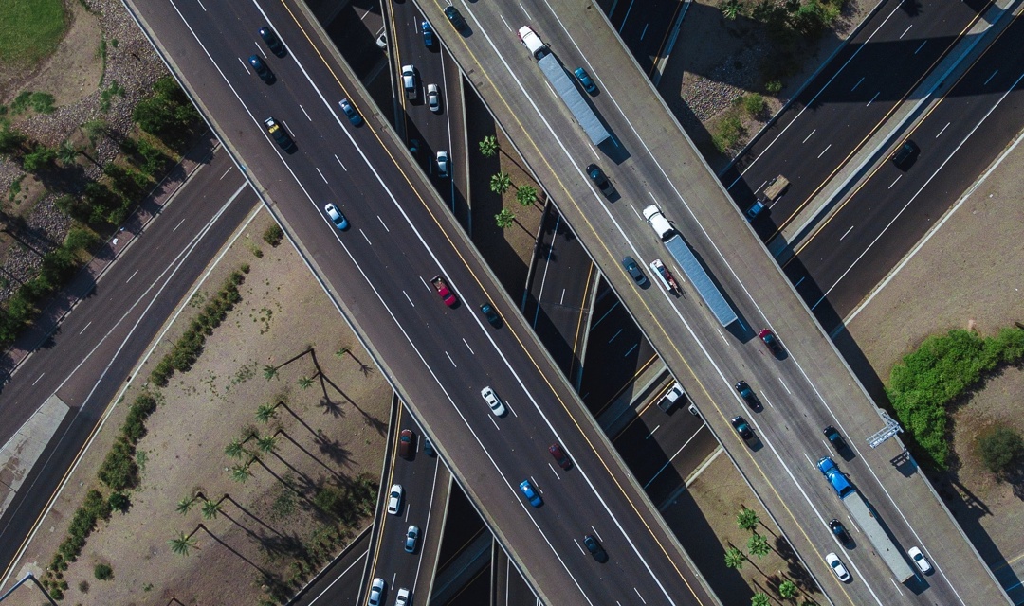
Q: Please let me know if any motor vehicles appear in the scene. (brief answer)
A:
Yes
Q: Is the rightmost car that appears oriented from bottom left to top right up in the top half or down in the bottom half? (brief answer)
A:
top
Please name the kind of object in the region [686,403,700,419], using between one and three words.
car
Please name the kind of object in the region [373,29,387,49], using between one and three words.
car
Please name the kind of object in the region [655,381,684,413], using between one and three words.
truck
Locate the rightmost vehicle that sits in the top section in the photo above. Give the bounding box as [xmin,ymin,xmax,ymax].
[888,136,916,164]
